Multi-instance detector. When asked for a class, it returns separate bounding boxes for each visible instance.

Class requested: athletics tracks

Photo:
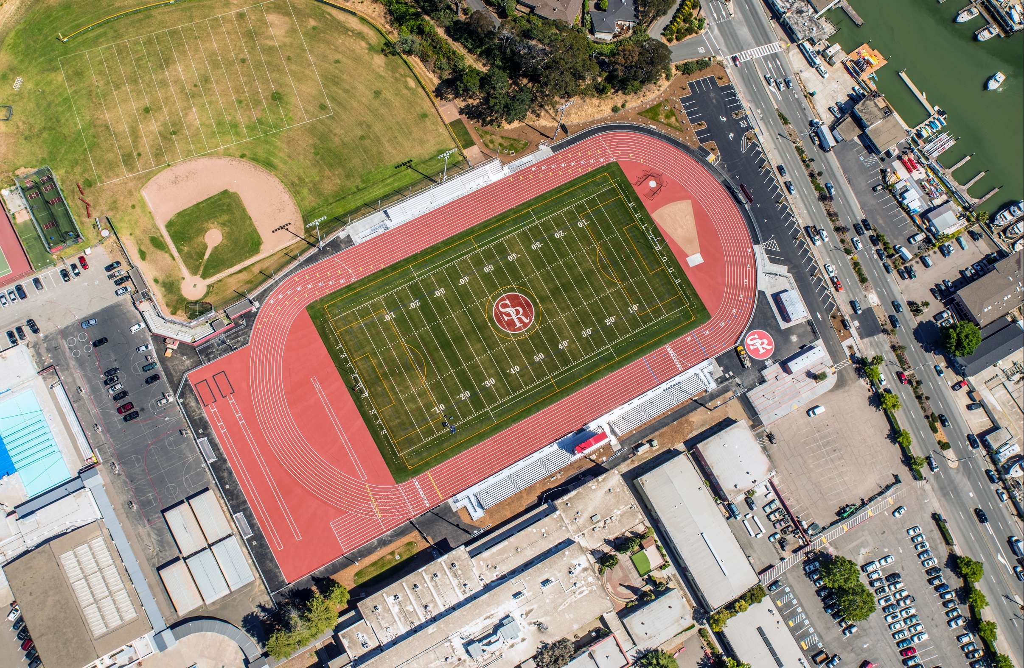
[187,136,754,586]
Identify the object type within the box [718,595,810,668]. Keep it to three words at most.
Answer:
building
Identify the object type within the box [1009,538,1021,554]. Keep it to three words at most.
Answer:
vehicle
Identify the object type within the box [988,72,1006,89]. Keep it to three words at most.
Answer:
boat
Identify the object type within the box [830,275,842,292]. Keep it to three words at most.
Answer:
vehicle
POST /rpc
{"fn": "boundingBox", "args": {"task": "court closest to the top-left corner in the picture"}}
[0,203,34,288]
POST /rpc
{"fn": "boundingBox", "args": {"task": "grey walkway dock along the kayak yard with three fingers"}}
[929,156,980,206]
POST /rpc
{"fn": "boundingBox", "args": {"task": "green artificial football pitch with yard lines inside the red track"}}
[305,160,713,487]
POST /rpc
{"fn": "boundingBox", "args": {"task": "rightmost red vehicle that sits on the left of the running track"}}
[115,402,136,414]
